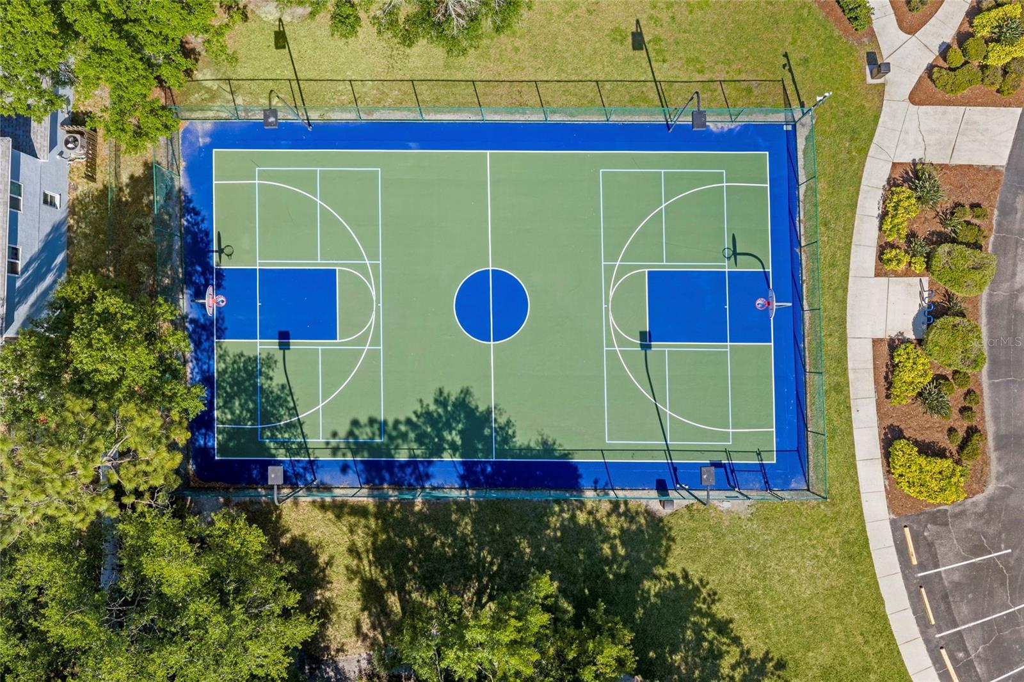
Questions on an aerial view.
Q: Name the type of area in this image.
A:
sports ground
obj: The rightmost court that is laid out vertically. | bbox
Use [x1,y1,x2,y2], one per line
[600,169,731,444]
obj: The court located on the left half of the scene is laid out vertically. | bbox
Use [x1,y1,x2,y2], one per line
[256,168,383,441]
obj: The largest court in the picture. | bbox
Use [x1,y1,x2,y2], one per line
[182,122,809,490]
